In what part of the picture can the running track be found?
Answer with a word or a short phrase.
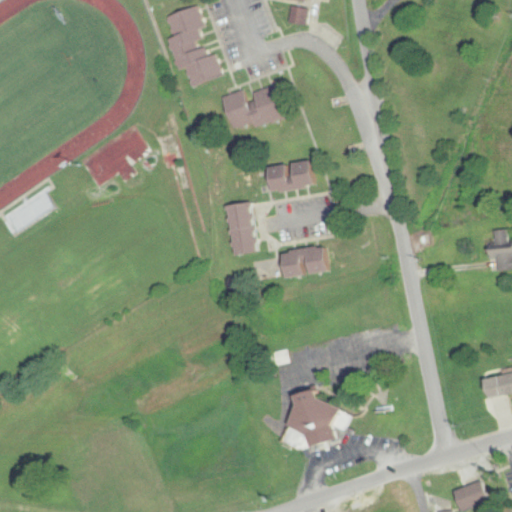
top left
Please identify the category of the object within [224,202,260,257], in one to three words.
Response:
building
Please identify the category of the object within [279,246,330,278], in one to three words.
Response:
building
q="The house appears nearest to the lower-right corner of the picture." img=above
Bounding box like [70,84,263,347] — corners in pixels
[454,481,484,512]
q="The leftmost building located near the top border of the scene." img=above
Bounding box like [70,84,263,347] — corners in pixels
[168,6,228,88]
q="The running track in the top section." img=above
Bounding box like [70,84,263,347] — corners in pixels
[0,0,146,210]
